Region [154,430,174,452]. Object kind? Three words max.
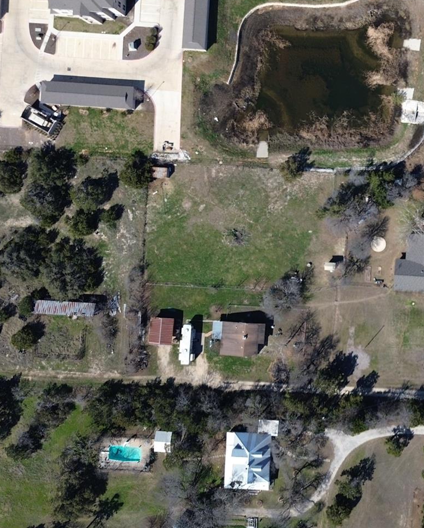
shed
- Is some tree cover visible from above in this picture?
Yes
